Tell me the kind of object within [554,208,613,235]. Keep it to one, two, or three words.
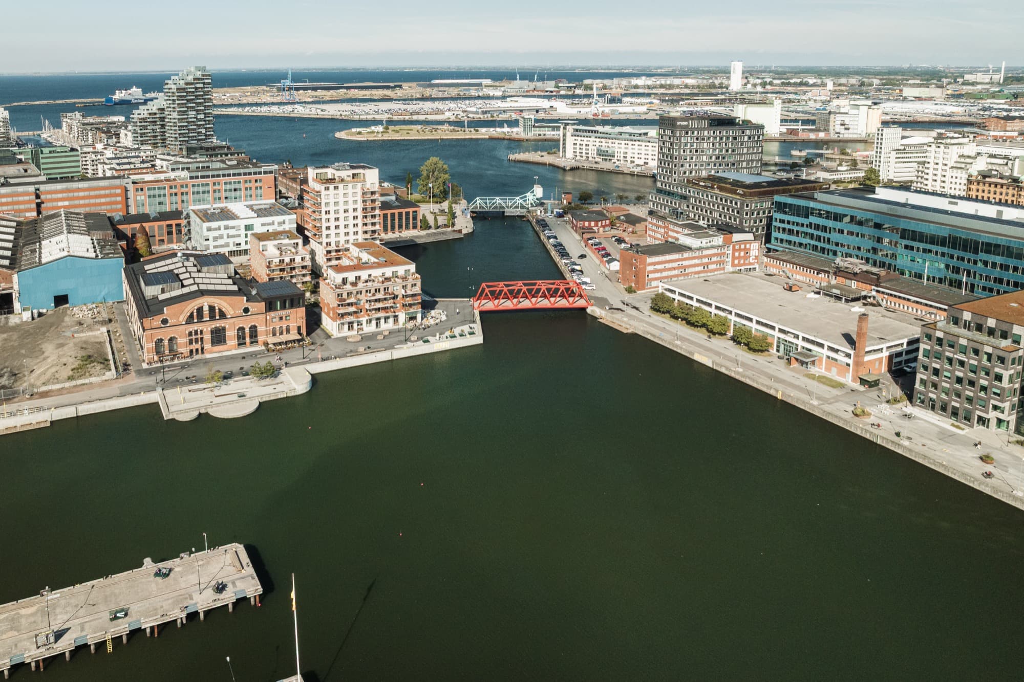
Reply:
house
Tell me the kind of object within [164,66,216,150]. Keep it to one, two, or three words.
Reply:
building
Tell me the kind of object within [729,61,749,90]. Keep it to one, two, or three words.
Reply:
silo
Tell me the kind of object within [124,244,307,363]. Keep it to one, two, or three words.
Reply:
building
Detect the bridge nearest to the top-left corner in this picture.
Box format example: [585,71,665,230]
[461,170,556,217]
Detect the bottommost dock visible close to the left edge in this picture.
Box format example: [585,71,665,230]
[0,542,263,682]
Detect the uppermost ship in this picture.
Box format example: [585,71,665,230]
[100,85,165,105]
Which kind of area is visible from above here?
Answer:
port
